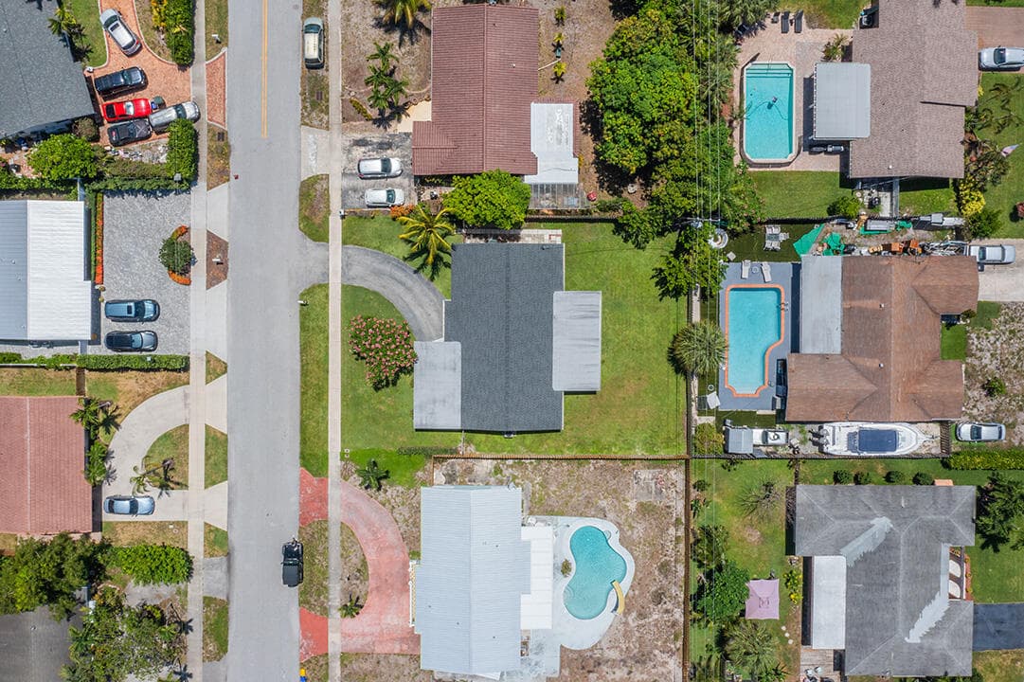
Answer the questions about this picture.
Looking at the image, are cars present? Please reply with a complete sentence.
Yes, there is a car in the image.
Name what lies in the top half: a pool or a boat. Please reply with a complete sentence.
What appears in the top half is a pool.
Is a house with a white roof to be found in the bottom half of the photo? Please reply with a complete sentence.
Yes, you'll find a house with a white roof in the bottom half of the photo.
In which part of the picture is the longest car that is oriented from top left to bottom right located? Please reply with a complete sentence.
The longest car that is oriented from top left to bottom right sits in the top left section of the image.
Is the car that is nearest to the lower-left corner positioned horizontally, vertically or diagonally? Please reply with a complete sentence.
The car that is nearest to the lower-left corner runs horizontally in the image.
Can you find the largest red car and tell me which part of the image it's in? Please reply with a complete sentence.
You can find the largest red car in the top left area of the picture.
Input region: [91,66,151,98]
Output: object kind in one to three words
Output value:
truck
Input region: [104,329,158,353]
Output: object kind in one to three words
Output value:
car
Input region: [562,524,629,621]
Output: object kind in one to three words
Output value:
swimming pool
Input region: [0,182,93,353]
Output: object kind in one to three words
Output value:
house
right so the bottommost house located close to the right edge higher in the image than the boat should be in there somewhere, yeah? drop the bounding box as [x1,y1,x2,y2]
[783,255,980,424]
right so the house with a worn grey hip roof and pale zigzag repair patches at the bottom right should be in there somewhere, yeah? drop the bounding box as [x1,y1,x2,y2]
[790,486,976,677]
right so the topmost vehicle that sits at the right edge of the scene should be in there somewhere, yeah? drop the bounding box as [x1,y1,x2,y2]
[978,46,1024,72]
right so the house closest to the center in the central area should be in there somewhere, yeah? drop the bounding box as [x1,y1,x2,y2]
[413,242,602,438]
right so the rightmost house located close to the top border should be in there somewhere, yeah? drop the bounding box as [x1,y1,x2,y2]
[806,0,980,213]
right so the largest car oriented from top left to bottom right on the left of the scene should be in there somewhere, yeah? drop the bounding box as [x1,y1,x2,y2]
[100,8,144,58]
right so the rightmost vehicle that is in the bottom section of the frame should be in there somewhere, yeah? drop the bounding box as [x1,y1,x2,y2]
[953,420,1007,444]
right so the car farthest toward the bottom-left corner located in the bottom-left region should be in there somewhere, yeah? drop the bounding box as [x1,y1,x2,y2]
[104,494,156,518]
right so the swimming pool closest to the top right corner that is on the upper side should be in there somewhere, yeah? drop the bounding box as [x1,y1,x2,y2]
[742,57,796,162]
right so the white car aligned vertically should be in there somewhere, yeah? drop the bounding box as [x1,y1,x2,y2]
[300,18,326,70]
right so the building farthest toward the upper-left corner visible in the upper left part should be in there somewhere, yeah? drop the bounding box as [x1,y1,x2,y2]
[0,0,102,144]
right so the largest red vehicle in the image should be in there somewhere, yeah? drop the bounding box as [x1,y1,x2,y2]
[102,97,154,124]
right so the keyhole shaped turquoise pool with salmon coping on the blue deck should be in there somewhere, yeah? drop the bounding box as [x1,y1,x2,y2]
[727,286,788,395]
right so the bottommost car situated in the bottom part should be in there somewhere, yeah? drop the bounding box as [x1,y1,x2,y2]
[281,540,305,588]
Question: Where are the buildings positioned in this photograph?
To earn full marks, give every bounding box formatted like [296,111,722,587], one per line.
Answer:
[720,426,753,454]
[783,255,980,424]
[0,0,102,144]
[806,0,980,213]
[411,1,590,212]
[413,242,602,438]
[0,182,93,353]
[415,472,553,679]
[790,486,976,677]
[0,397,102,540]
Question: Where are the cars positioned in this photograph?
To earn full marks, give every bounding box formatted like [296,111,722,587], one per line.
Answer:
[100,8,144,58]
[105,298,160,323]
[953,420,1007,444]
[147,100,203,132]
[104,494,156,518]
[104,329,158,353]
[300,18,326,70]
[102,97,154,124]
[967,242,1017,265]
[357,155,403,180]
[364,185,406,208]
[978,46,1024,72]
[281,540,305,588]
[106,119,155,147]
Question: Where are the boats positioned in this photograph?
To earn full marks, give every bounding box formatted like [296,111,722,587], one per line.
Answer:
[815,423,931,455]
